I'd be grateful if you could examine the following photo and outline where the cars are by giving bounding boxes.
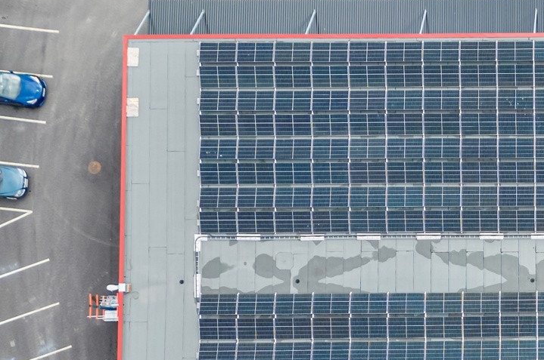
[0,65,51,109]
[0,164,32,201]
